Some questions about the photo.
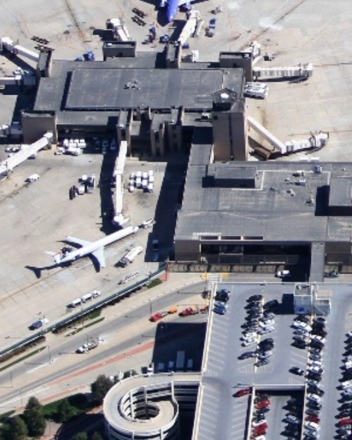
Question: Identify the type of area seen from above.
airport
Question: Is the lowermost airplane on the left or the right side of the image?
left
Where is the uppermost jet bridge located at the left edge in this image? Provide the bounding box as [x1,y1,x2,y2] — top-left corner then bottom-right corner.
[0,40,38,68]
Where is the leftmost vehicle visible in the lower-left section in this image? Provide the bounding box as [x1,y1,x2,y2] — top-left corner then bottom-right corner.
[30,315,45,329]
